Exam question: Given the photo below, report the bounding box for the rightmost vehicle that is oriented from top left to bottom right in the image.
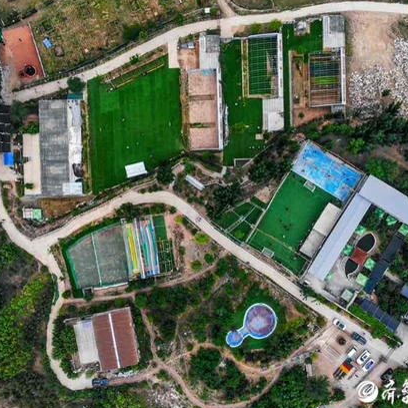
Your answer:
[351,331,368,345]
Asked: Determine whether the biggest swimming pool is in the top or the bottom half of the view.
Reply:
bottom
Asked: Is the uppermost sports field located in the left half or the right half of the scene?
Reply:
left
